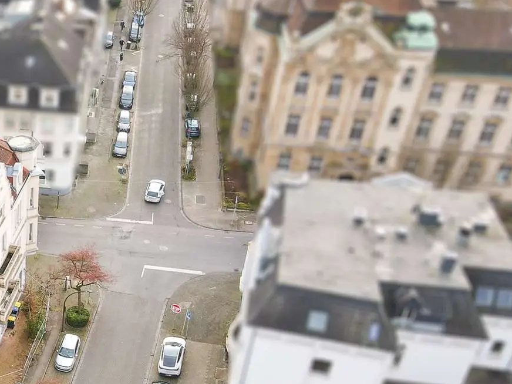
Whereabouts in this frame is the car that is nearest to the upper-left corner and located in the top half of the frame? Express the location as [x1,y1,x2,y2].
[102,31,116,46]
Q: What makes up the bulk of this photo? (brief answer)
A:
buildings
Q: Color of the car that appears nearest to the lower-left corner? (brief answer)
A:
white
